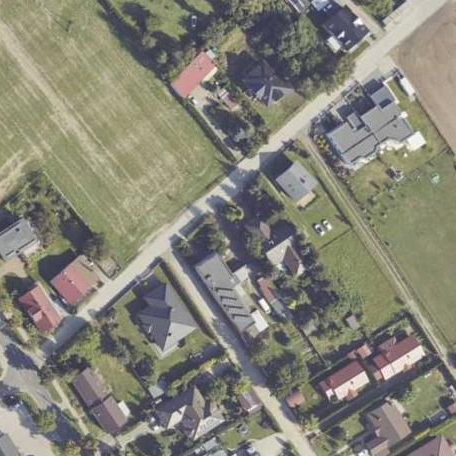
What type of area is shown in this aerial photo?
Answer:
residential area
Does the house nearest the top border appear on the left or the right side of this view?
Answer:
right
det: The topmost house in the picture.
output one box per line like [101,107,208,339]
[311,0,371,52]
